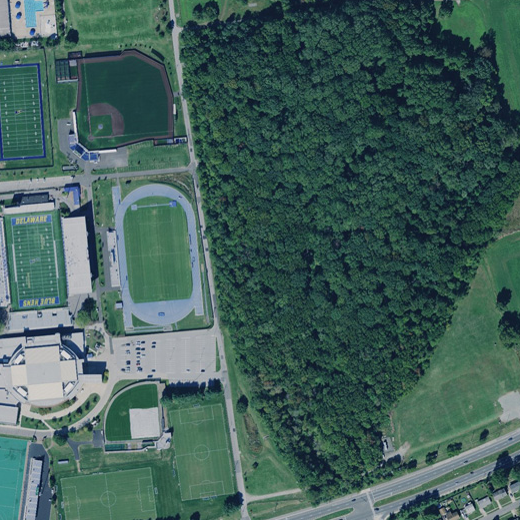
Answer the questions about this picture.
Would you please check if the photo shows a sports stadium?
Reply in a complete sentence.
Yes, a sports stadium is visible in the scene.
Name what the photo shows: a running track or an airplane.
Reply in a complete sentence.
It is a running track that can be seen here.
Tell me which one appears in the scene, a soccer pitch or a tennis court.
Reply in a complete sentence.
The image shows a soccer pitch.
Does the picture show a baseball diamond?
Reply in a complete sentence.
Yes, there's a baseball diamond here.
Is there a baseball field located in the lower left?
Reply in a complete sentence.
Yes, in the lower left there is a baseball field.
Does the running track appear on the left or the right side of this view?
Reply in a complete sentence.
You can find the running track on the left side of the picture.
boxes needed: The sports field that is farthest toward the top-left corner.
[0,63,46,159]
